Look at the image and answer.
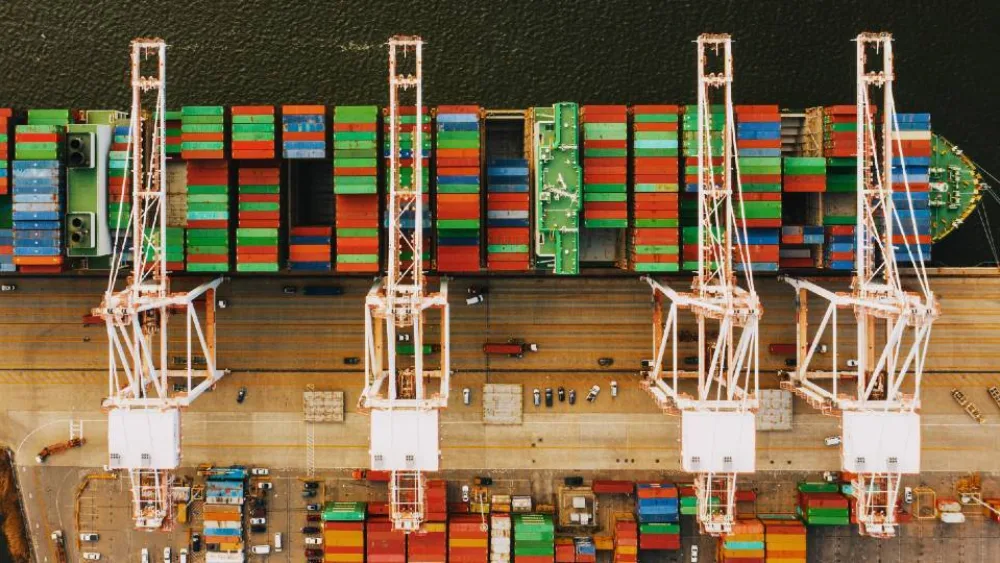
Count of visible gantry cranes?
4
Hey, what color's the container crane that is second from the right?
white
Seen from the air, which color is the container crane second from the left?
white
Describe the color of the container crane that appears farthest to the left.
white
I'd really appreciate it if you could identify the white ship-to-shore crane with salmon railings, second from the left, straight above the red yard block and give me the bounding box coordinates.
[362,35,460,533]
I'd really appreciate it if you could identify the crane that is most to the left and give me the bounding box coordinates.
[99,35,235,533]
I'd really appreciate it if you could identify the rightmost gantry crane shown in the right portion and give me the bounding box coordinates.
[771,35,938,533]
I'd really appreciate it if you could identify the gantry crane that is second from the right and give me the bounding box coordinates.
[634,35,762,533]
